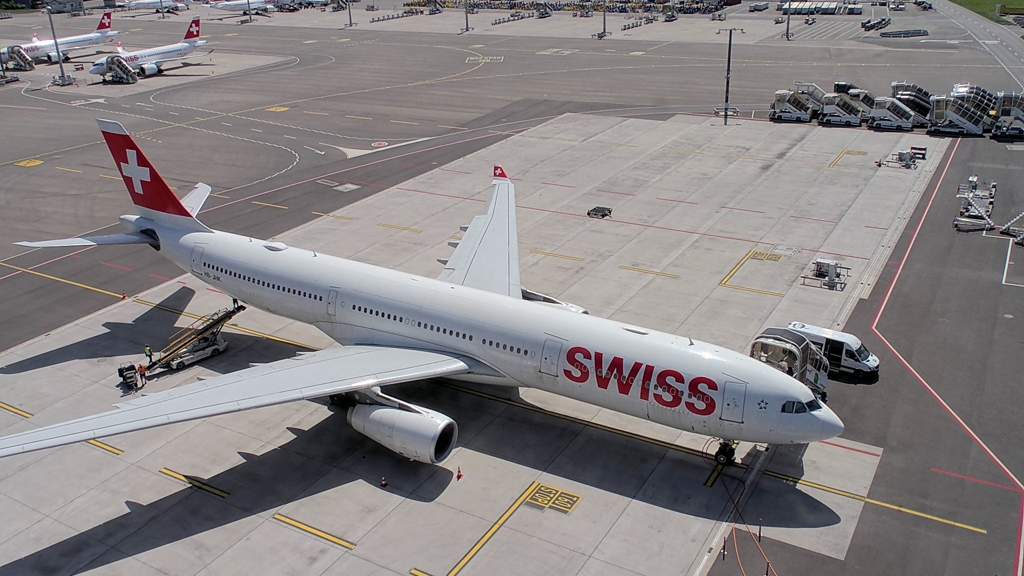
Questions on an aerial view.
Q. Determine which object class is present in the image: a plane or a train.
plane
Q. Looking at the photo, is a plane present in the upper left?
Yes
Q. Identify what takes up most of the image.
paved ground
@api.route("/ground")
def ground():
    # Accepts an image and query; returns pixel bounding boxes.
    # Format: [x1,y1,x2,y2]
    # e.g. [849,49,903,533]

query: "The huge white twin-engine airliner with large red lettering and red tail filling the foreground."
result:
[0,118,844,466]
